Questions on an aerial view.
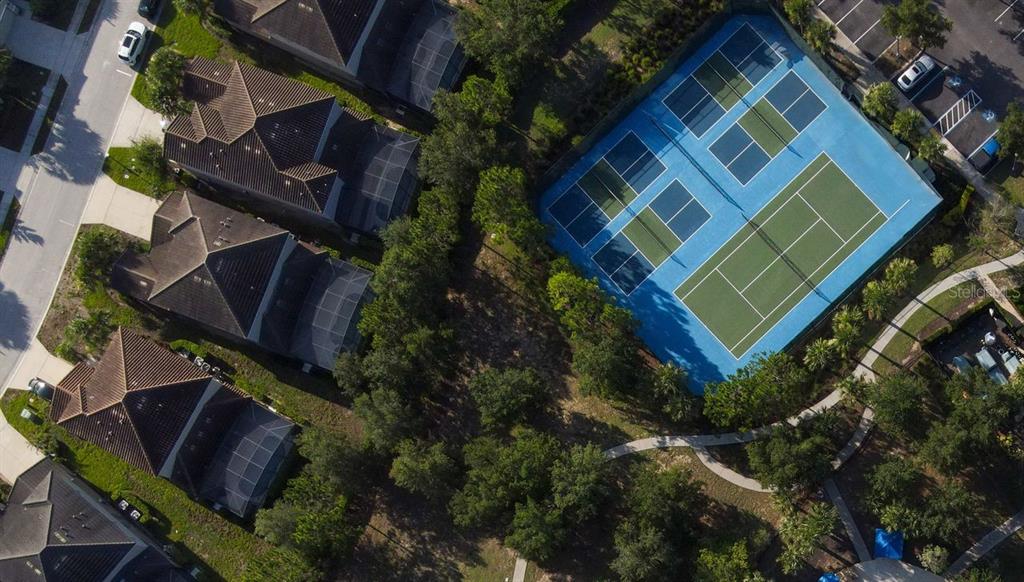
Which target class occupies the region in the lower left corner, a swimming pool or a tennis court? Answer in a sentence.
Visible in the lower left corner is a swimming pool.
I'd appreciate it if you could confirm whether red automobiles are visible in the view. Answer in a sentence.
No, the scene contains no red automobile.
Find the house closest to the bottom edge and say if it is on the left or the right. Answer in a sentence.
The house closest to the bottom edge sits on the left side.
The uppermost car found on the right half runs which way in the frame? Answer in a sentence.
In this picture, the uppermost car found on the right half is oriented on a diagonal.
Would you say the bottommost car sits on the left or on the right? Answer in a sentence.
The bottommost car sits on the left side.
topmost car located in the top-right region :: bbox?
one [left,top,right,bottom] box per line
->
[895,55,935,94]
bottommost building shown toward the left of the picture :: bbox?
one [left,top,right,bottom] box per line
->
[0,457,205,582]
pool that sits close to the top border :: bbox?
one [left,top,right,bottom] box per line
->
[386,0,476,125]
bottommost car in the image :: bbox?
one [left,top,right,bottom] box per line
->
[27,381,55,404]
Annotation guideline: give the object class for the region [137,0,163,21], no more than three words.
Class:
car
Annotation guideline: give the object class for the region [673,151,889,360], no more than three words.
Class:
tennis court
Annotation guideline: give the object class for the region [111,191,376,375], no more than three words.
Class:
house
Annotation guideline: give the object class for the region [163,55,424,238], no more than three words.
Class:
house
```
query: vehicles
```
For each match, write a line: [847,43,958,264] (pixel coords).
[137,0,163,21]
[117,21,148,67]
[895,55,935,94]
[971,129,1013,171]
[27,381,55,404]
